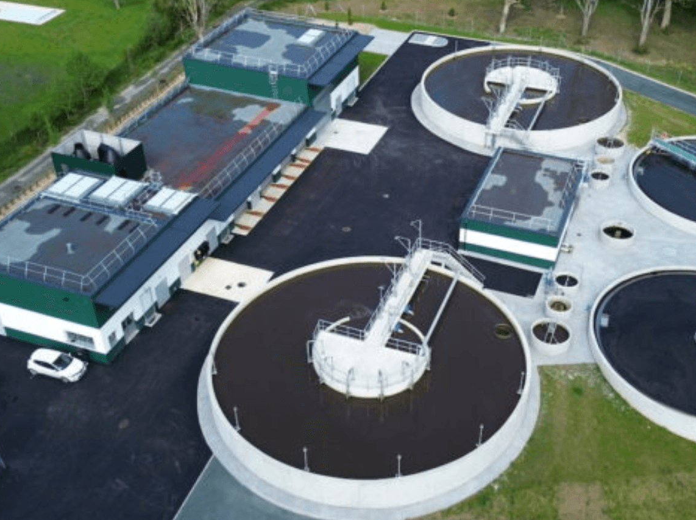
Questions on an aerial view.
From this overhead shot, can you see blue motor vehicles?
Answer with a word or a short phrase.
No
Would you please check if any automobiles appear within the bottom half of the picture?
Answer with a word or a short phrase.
Yes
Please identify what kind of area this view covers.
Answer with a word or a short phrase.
industrial area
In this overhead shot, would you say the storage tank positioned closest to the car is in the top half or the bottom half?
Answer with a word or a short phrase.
bottom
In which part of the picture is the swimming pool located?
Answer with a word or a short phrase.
top left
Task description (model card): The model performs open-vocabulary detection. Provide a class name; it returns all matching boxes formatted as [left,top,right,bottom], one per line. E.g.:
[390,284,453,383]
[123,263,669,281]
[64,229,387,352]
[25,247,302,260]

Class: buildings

[0,9,377,364]
[456,146,593,271]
